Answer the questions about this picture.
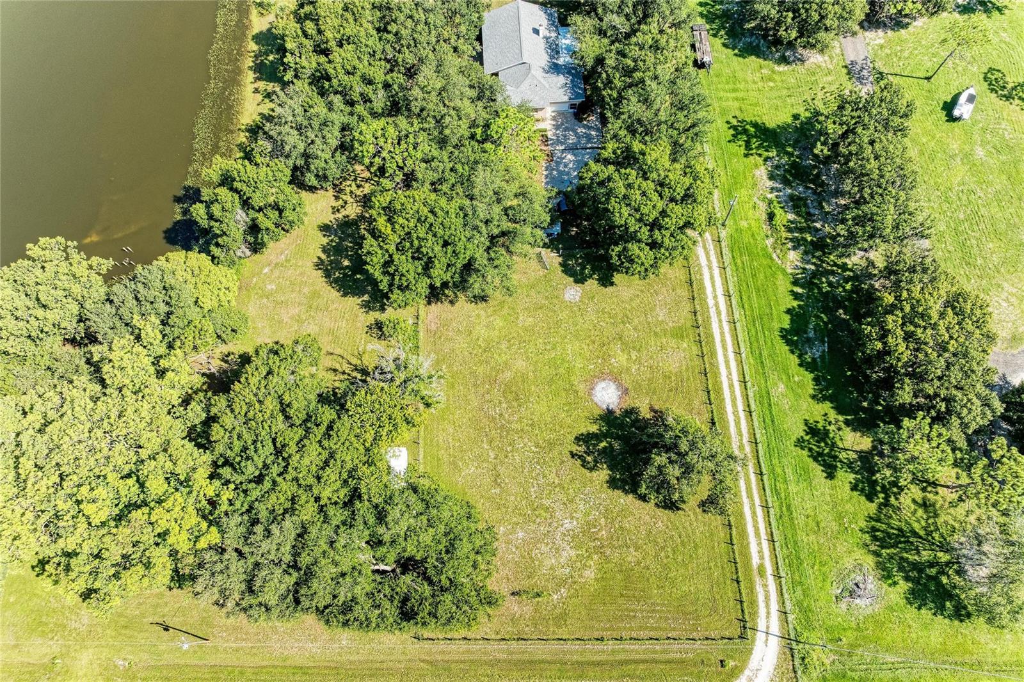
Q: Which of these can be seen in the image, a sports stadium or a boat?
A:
boat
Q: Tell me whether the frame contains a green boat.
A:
No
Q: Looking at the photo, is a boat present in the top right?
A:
Yes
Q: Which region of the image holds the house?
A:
top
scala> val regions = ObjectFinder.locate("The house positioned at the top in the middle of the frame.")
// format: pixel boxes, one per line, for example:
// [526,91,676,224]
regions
[485,0,585,118]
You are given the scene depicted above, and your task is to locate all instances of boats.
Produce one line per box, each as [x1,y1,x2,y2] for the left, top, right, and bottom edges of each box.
[951,86,979,124]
